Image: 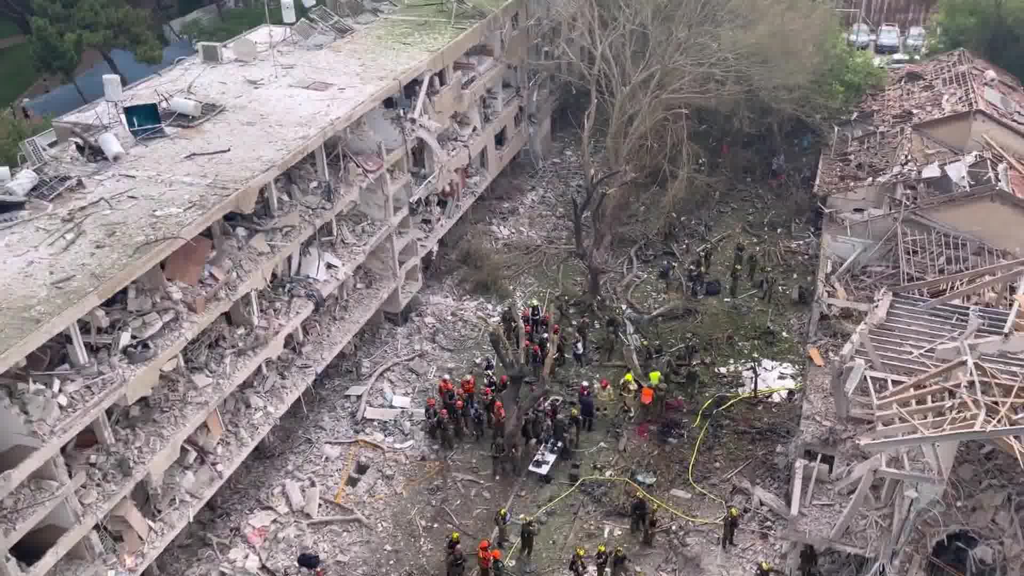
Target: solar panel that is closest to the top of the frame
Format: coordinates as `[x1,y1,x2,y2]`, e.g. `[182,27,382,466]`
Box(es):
[123,102,169,141]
